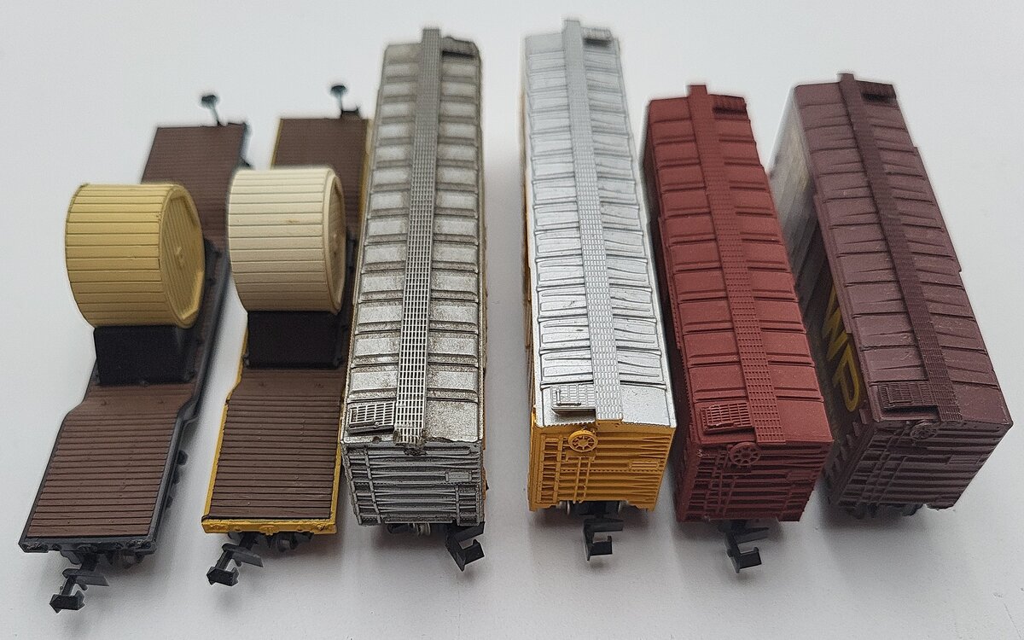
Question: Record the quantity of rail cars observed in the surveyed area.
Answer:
4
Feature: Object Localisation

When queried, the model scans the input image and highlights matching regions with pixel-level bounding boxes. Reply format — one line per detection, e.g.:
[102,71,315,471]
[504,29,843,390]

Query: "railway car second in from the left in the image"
[520,24,675,559]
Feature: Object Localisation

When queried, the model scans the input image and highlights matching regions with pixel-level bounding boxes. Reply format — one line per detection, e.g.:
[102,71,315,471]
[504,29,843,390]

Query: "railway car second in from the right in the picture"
[640,86,833,572]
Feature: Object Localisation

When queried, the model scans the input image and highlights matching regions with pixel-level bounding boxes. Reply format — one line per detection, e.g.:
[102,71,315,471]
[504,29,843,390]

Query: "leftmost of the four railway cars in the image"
[342,32,488,566]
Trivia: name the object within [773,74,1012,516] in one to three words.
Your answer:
rail car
